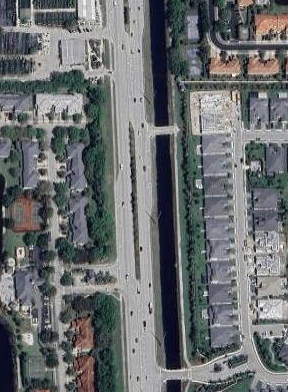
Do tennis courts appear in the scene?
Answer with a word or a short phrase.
Yes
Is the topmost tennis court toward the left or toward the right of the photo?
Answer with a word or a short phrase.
left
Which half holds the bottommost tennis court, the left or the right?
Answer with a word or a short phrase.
left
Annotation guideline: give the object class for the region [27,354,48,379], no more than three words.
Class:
tennis court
